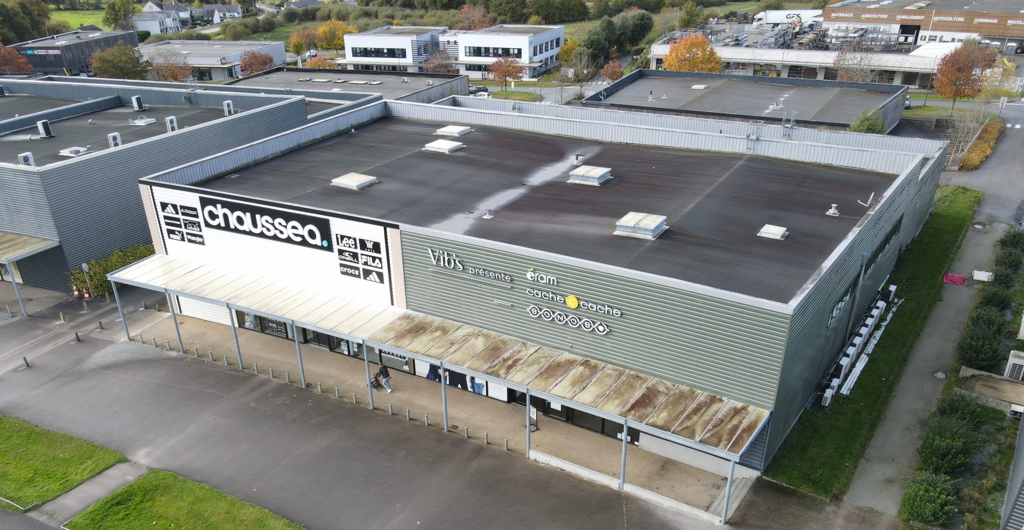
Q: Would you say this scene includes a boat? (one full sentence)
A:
No, there isn't any boat down there.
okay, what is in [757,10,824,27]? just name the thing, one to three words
vehicle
